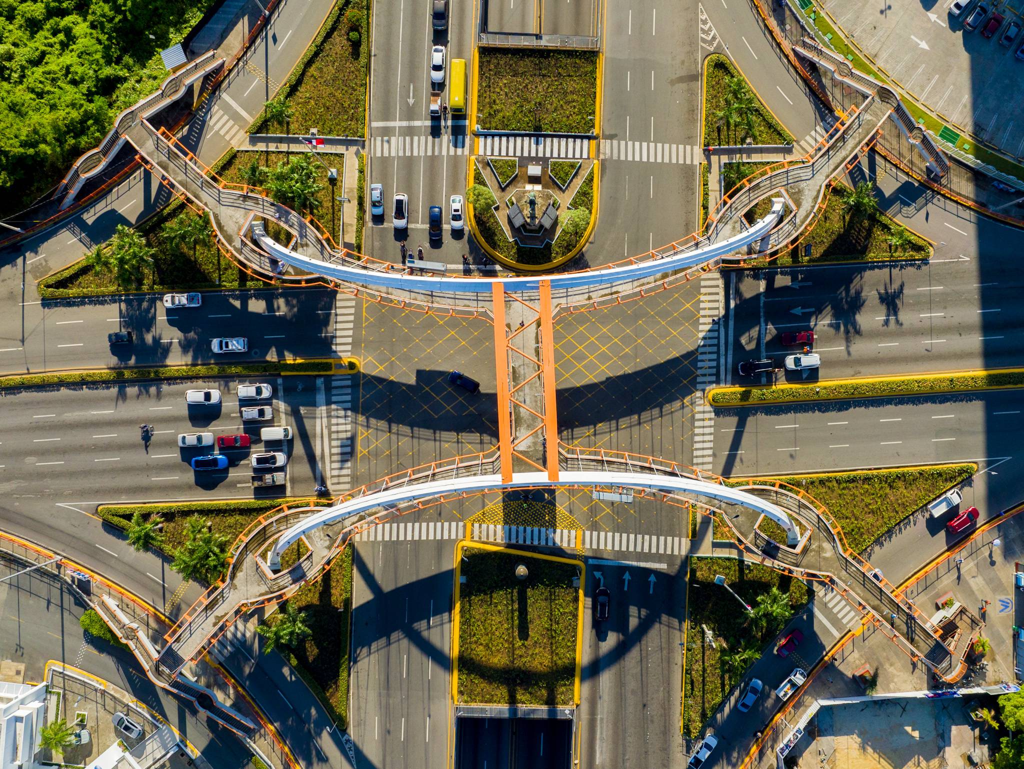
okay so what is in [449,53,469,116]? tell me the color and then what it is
yellow bus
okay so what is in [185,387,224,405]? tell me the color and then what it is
white car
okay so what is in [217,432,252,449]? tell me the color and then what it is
red car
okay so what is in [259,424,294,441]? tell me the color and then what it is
white vehicle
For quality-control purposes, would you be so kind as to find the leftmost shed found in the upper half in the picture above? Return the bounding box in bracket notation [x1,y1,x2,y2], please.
[160,44,192,74]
